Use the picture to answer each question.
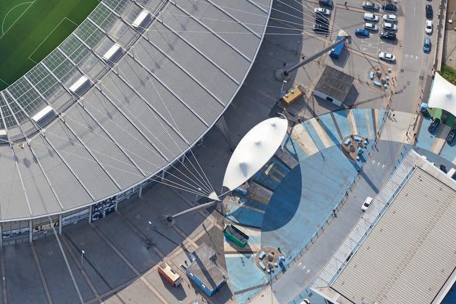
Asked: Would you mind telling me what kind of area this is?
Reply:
sports ground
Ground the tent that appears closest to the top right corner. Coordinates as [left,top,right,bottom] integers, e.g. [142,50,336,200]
[428,73,456,117]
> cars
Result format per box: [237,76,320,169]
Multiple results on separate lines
[427,118,441,132]
[446,129,456,143]
[315,15,329,23]
[423,39,431,52]
[379,52,395,61]
[363,23,379,31]
[382,3,397,11]
[313,23,328,33]
[315,8,329,17]
[355,29,370,36]
[380,30,397,41]
[318,0,335,7]
[382,22,397,31]
[362,1,379,11]
[425,20,432,34]
[426,6,433,19]
[436,161,448,174]
[361,196,373,213]
[298,297,313,304]
[382,14,397,22]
